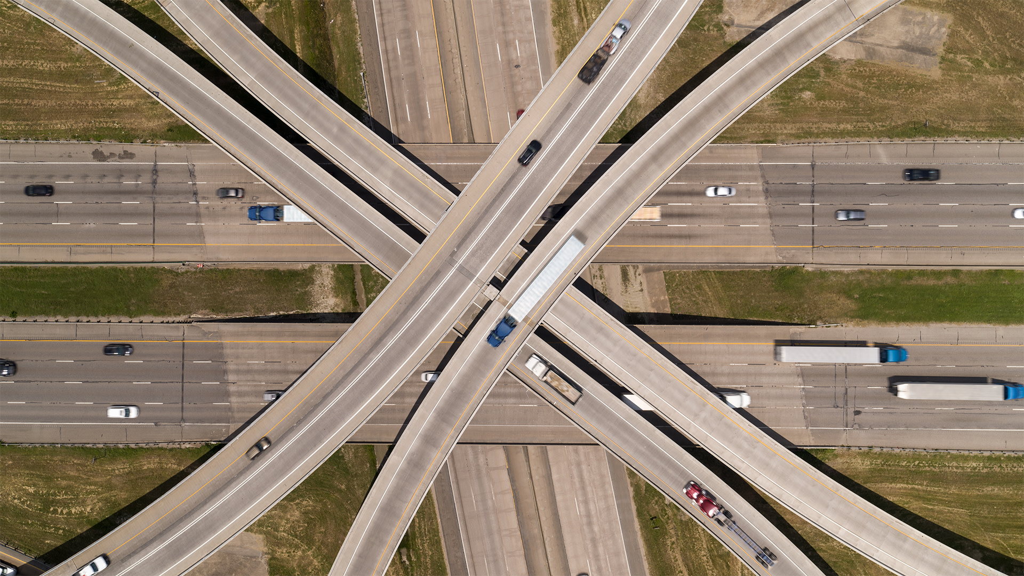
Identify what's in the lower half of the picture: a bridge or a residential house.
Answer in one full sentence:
What appears in the lower half of the picture is a bridge.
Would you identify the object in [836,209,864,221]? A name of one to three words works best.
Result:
vehicle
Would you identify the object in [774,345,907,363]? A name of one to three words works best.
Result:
vehicle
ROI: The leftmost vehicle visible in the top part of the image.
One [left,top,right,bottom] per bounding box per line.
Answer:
[27,184,53,197]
